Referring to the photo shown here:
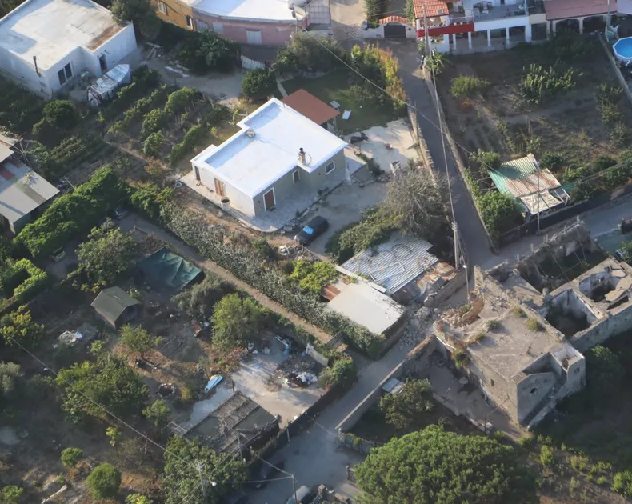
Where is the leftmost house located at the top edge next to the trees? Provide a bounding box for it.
[0,0,136,99]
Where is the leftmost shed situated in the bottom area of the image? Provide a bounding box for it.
[94,288,140,334]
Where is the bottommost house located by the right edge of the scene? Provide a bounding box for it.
[436,213,632,430]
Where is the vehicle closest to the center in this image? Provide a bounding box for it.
[295,216,328,246]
